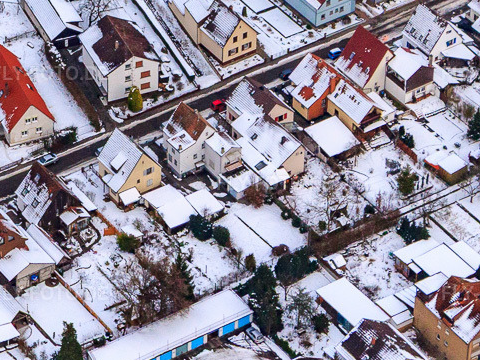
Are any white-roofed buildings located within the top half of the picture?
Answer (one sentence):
Yes, there is a white-roofed building within the top half of the picture.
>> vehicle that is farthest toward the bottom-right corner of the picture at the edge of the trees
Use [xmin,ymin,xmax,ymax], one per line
[242,322,267,344]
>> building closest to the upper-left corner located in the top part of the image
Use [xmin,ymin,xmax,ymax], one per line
[24,0,84,48]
